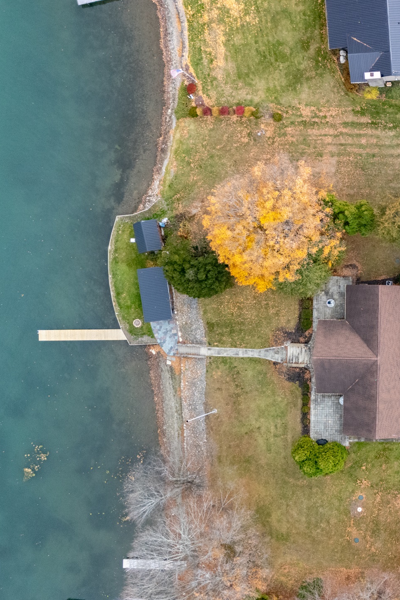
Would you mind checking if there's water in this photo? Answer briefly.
Yes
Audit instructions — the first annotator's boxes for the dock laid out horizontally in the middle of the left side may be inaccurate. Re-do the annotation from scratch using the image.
[38,328,124,341]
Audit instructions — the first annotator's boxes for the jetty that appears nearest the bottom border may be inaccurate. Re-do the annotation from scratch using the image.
[123,557,187,570]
